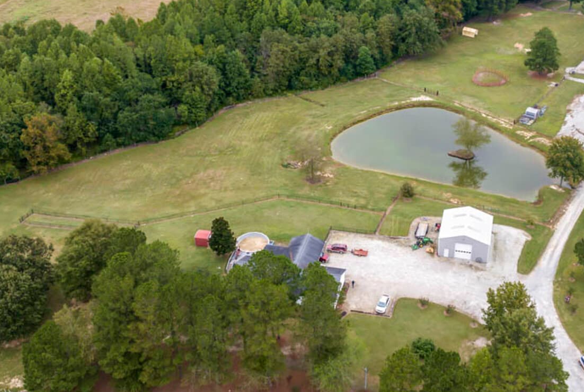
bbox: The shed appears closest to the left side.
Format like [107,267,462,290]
[193,228,215,246]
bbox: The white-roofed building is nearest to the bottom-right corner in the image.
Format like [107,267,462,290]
[438,200,496,266]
